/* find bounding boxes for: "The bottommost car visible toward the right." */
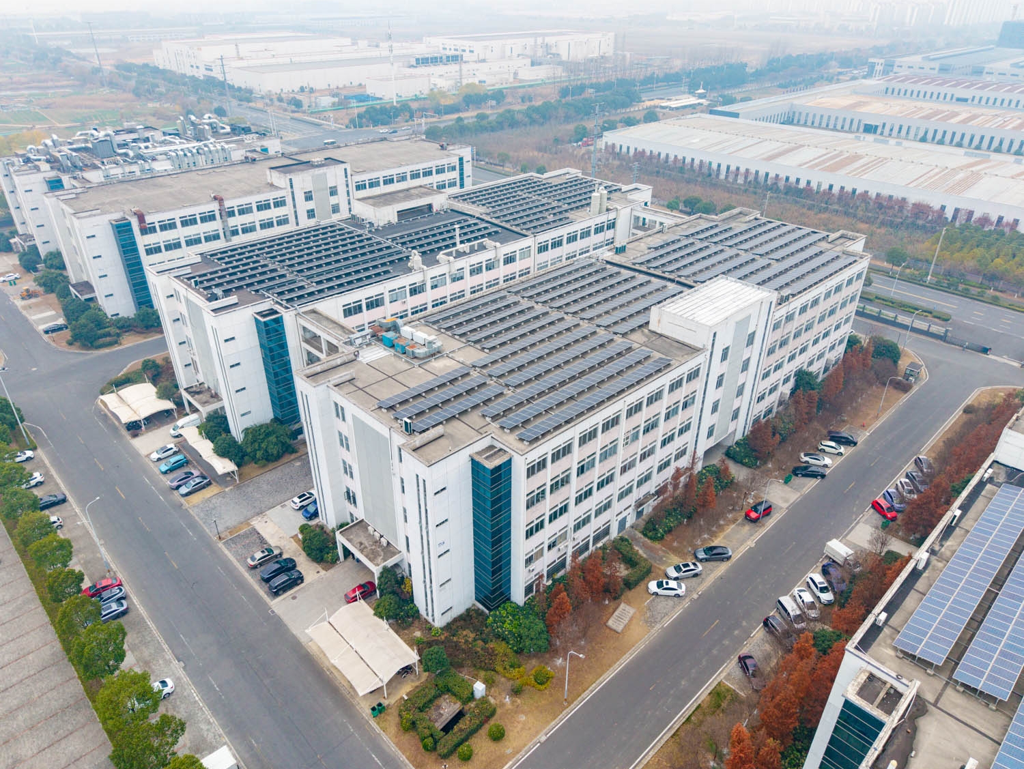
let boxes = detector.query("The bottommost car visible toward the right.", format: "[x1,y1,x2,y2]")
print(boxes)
[733,650,769,689]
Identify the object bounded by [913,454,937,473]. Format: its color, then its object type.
gray car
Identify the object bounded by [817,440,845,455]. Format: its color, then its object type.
white car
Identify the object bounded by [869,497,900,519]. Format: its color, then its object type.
red car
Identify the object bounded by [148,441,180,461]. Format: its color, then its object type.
white car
